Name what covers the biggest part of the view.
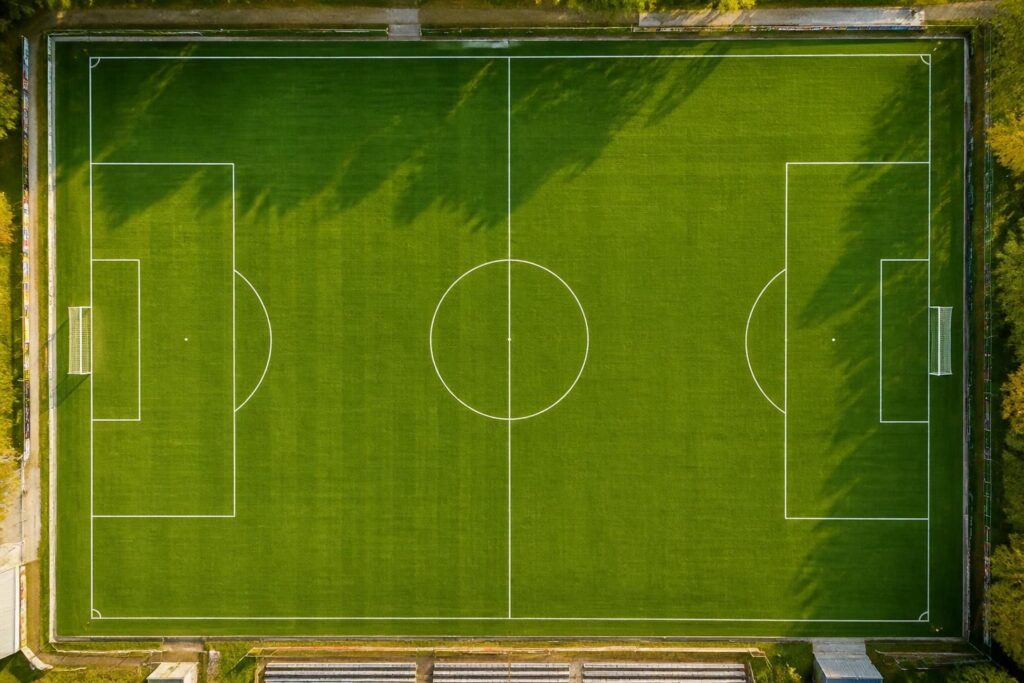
grass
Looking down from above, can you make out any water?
No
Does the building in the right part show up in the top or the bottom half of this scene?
bottom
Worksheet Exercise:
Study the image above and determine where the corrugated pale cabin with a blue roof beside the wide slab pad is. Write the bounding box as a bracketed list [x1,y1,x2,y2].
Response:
[814,653,885,683]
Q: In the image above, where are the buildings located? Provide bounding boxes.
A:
[146,662,197,683]
[0,565,21,659]
[814,653,885,683]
